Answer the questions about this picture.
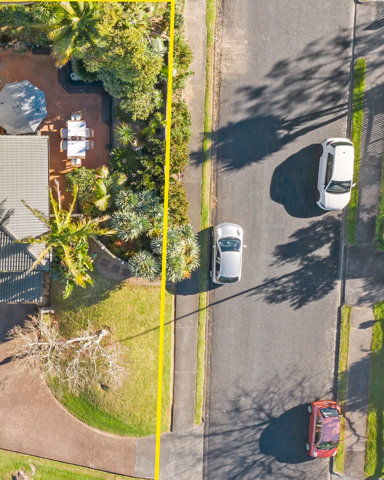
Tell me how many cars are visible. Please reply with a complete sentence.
I count 3 cars.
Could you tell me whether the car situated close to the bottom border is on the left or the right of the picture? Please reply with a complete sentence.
The car situated close to the bottom border is on the right side of the image.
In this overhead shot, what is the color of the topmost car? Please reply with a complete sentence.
The topmost car looks white in the image.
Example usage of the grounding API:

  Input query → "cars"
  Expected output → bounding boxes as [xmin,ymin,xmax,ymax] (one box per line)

[211,221,248,283]
[311,139,351,208]
[302,401,340,462]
